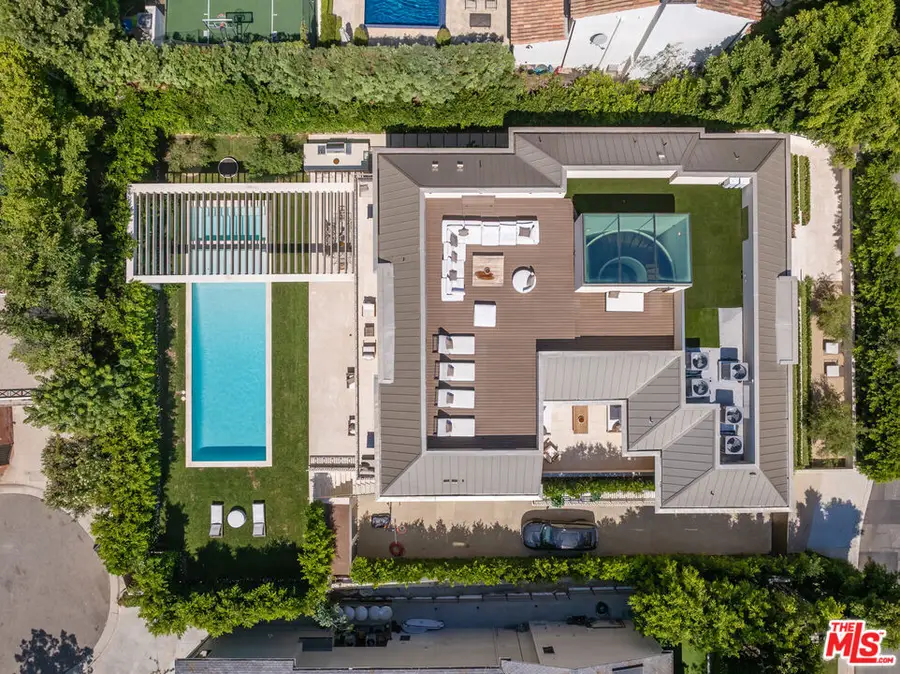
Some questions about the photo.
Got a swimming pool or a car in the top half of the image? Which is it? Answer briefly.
swimming pool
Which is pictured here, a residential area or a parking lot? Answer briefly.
residential area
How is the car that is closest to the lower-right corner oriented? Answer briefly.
from side to side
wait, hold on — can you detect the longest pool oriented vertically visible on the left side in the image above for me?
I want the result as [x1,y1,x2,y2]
[181,202,272,467]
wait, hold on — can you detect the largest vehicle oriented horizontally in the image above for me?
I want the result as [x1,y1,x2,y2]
[521,519,597,555]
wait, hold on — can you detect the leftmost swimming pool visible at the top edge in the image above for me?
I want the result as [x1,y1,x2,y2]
[364,0,446,28]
